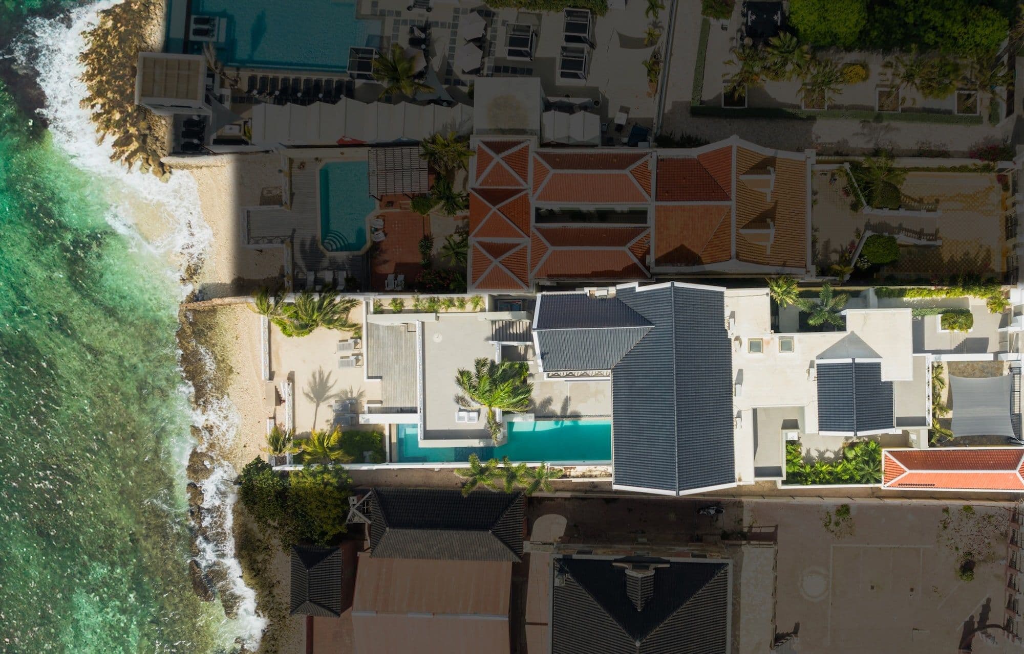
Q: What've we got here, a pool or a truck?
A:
pool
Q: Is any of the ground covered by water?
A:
Yes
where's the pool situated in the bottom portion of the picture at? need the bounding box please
[398,416,613,463]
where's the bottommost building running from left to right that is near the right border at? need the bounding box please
[879,448,1024,492]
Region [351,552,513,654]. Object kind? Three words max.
shed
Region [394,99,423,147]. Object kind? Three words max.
tent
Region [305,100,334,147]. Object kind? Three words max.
tent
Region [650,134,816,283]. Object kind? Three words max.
house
